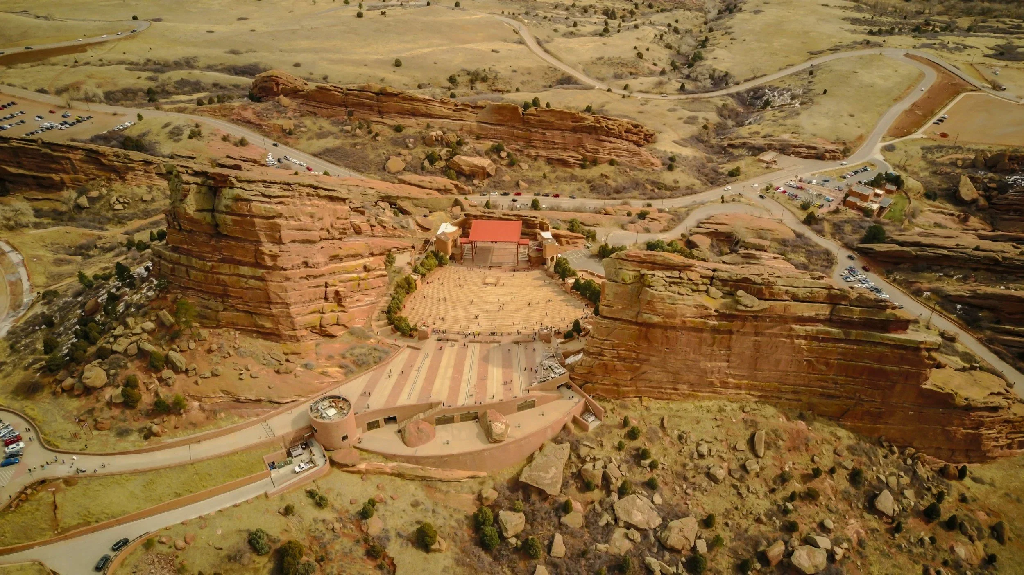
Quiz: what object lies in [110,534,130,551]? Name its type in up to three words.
car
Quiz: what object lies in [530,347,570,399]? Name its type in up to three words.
building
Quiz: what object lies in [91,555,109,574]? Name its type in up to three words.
car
